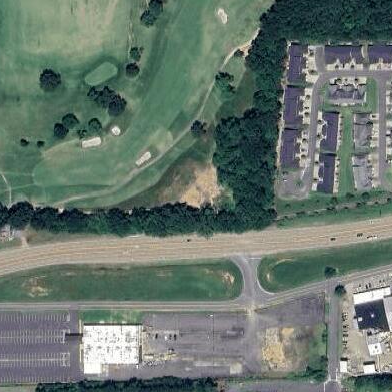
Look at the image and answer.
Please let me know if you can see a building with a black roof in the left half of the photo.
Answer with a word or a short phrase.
No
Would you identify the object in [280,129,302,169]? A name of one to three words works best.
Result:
house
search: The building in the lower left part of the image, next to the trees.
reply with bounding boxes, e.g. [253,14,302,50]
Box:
[64,325,139,373]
